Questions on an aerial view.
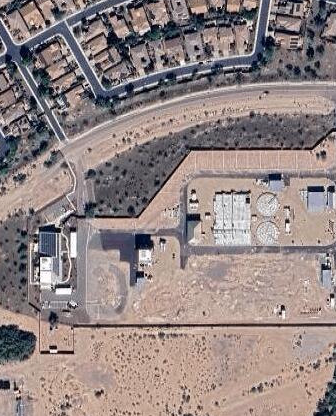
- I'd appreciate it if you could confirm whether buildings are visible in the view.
Yes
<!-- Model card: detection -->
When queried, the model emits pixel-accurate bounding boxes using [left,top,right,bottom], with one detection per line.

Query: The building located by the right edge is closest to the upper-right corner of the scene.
[322,3,336,40]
